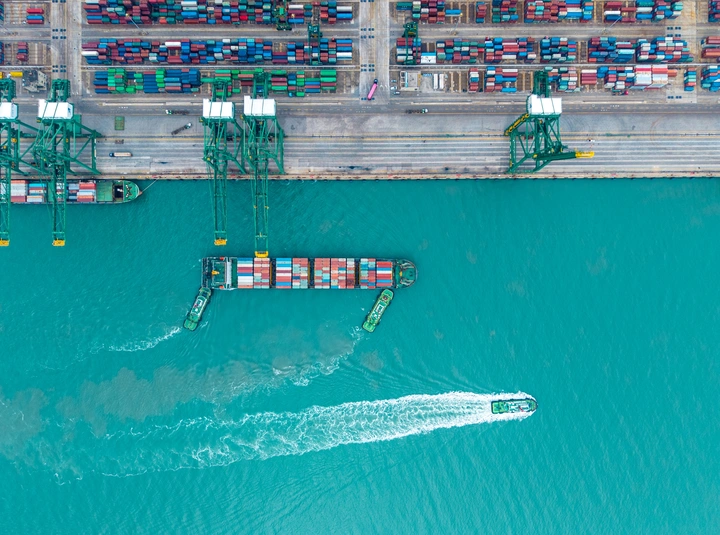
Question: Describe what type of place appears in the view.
port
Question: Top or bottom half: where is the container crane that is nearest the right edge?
top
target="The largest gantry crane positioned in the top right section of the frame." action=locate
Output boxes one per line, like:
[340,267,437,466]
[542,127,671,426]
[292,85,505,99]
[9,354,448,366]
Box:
[503,70,593,174]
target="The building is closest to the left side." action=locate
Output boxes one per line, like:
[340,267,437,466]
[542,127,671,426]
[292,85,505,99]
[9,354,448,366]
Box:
[20,68,46,92]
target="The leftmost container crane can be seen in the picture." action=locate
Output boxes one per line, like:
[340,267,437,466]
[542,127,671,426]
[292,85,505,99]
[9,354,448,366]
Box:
[0,72,55,248]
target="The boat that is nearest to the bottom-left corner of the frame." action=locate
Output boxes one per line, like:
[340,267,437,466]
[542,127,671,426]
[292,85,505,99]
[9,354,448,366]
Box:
[184,288,212,331]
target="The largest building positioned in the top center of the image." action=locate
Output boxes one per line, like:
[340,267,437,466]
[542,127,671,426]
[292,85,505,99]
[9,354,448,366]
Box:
[400,69,421,91]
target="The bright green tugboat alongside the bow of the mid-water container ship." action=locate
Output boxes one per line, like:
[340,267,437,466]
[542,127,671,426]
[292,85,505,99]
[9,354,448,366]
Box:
[364,290,394,331]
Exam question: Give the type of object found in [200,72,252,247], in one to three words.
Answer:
container crane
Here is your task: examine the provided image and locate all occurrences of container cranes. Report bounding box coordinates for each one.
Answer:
[242,70,288,259]
[0,72,55,248]
[503,70,593,174]
[273,0,292,31]
[306,22,323,66]
[400,22,418,66]
[30,72,105,248]
[200,72,252,247]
